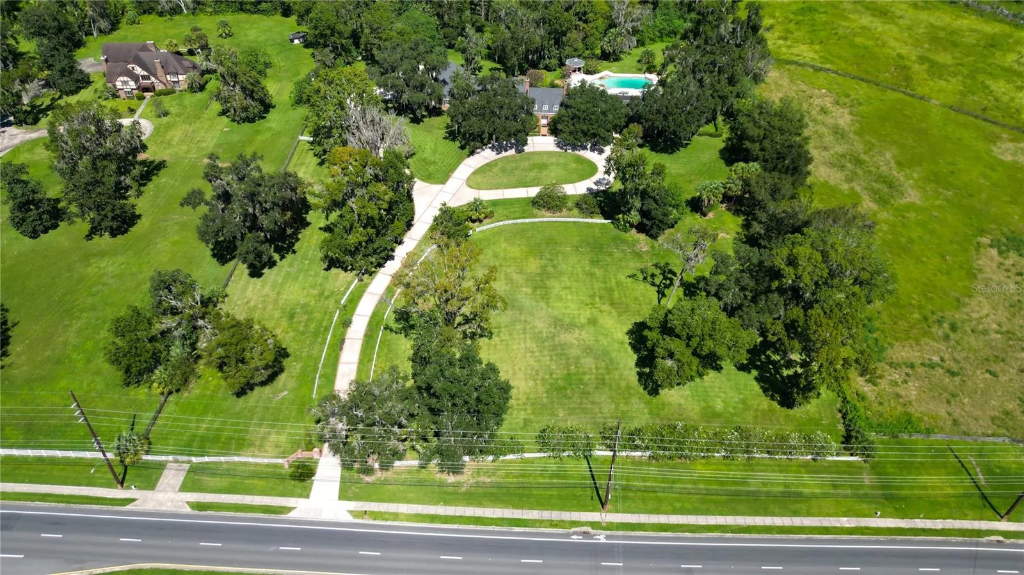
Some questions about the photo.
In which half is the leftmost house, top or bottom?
top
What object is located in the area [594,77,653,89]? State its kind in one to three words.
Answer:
swimming pool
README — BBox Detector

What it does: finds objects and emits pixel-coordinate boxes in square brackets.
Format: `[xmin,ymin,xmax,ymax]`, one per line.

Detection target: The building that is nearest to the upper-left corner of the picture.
[94,36,209,99]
